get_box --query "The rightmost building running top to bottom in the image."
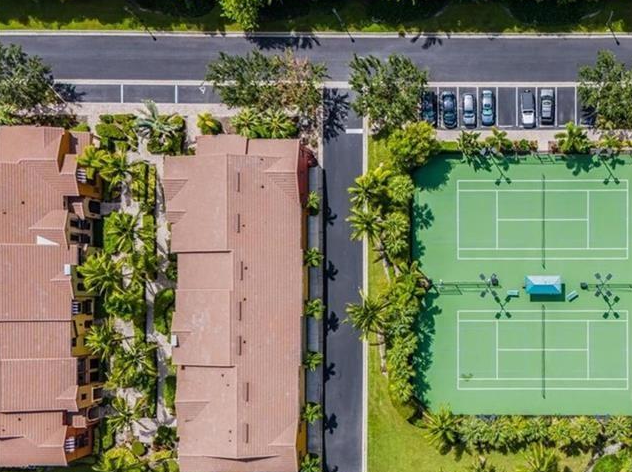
[162,133,323,472]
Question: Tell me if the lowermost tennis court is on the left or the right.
right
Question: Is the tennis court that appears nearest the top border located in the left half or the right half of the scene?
right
